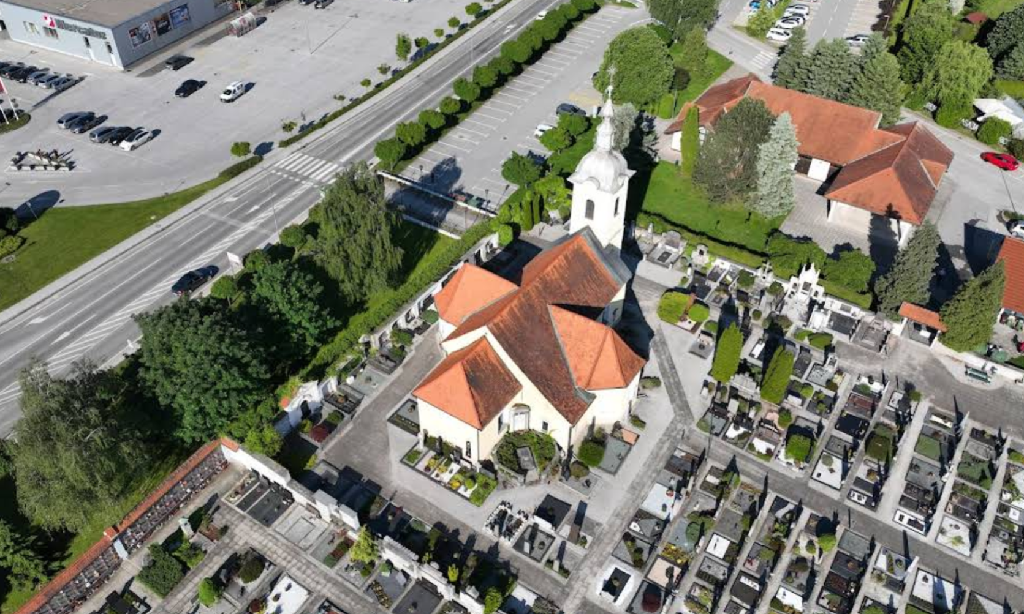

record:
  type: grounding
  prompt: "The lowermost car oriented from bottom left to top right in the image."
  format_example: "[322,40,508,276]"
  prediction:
[173,267,216,297]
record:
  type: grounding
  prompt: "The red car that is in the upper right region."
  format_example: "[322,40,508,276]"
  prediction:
[979,152,1020,172]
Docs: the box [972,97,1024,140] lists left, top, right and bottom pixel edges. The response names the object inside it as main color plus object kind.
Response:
white tent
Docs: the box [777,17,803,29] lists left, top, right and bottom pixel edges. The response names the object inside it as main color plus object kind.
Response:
white vehicle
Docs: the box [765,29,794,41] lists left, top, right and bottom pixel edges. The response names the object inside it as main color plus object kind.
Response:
white vehicle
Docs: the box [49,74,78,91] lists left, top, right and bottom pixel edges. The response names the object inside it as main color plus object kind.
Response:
gray car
